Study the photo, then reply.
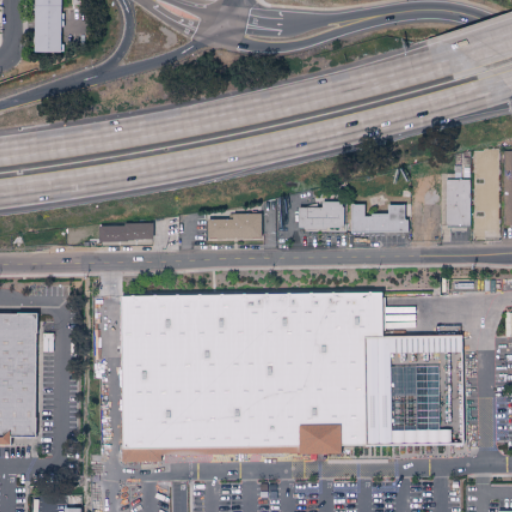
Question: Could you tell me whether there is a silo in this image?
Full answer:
No, there's no silo here.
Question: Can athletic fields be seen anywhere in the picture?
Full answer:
No, this view has no athletic field in it.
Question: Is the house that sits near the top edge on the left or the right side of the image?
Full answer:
The house that sits near the top edge is on the left side of the image.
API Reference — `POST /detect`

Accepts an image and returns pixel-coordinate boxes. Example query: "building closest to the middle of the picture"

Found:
[208,214,262,241]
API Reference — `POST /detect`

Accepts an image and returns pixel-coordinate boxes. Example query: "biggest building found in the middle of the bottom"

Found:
[122,292,384,462]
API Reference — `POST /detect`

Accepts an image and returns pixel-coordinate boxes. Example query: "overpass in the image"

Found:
[426,10,512,113]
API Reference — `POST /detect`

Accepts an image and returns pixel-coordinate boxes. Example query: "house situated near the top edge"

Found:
[34,0,64,52]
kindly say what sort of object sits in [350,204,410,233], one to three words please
building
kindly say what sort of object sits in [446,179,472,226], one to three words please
building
